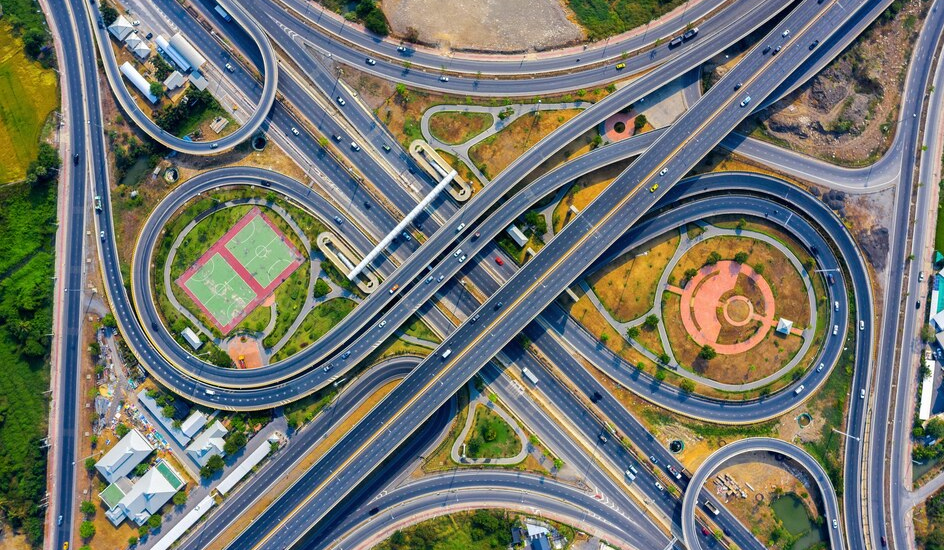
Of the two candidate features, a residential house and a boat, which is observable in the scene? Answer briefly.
residential house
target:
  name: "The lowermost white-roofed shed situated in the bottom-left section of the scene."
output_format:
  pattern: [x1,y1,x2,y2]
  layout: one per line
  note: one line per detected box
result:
[153,494,218,550]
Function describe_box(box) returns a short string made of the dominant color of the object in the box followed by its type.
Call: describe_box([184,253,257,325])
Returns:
green sports court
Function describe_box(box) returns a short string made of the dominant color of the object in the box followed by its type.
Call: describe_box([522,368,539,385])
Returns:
white vehicle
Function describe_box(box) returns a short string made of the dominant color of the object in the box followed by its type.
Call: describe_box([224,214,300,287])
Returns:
green sports court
